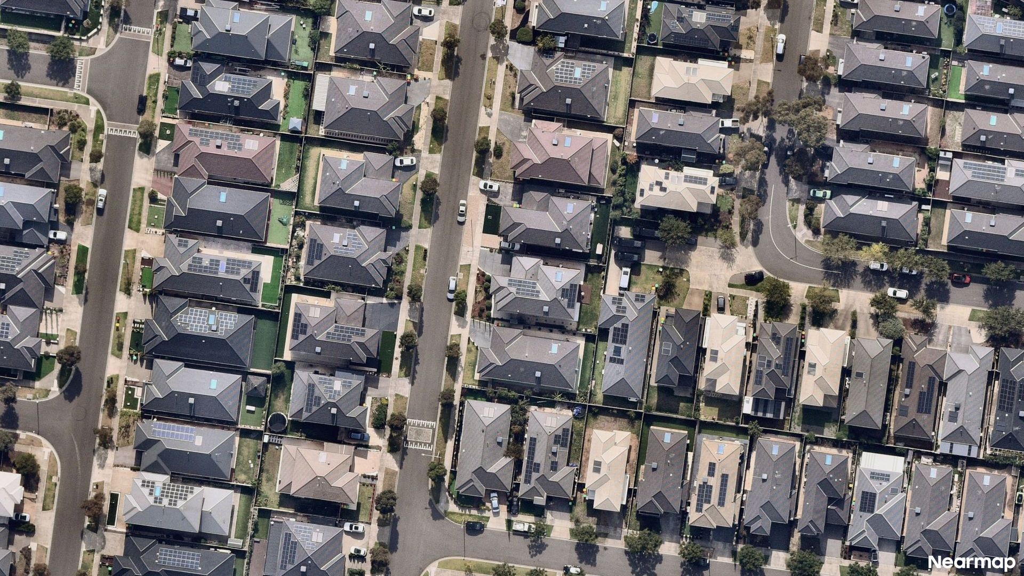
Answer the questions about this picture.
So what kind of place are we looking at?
residential area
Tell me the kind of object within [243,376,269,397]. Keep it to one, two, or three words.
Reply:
gazebo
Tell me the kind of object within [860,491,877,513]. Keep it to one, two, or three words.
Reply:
solar array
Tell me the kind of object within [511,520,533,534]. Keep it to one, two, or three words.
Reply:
vehicle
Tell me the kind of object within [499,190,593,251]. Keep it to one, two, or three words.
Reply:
house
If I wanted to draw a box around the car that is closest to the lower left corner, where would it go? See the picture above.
[11,511,33,523]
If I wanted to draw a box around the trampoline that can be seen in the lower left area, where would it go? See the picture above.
[268,412,287,431]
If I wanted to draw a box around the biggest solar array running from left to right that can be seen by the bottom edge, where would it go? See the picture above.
[157,548,203,569]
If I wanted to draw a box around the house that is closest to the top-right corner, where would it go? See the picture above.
[965,13,1024,54]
